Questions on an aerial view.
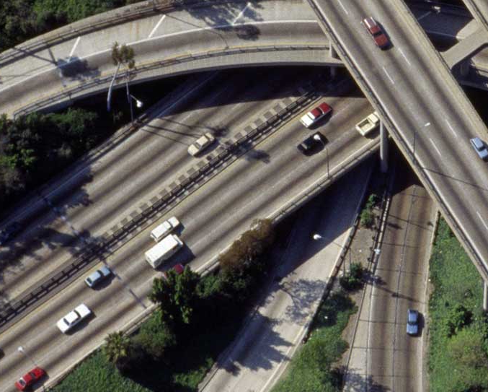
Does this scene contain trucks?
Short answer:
Yes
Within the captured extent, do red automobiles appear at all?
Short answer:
Yes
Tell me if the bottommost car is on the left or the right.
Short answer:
left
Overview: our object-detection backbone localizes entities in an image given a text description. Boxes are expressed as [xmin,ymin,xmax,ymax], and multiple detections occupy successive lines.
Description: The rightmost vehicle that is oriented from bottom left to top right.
[352,113,378,139]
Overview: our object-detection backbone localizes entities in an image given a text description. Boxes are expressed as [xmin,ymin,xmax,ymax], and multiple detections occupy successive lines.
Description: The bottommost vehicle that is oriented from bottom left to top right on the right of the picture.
[298,133,327,157]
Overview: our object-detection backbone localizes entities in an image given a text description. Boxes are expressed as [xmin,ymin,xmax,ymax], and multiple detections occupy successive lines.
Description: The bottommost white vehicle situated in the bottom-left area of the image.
[56,305,92,334]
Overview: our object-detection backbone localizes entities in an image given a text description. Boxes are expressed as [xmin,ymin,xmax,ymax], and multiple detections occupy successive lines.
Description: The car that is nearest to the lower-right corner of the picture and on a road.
[406,310,419,335]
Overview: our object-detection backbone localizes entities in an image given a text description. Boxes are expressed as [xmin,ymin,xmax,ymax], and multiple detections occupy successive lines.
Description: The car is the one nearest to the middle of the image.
[185,133,216,158]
